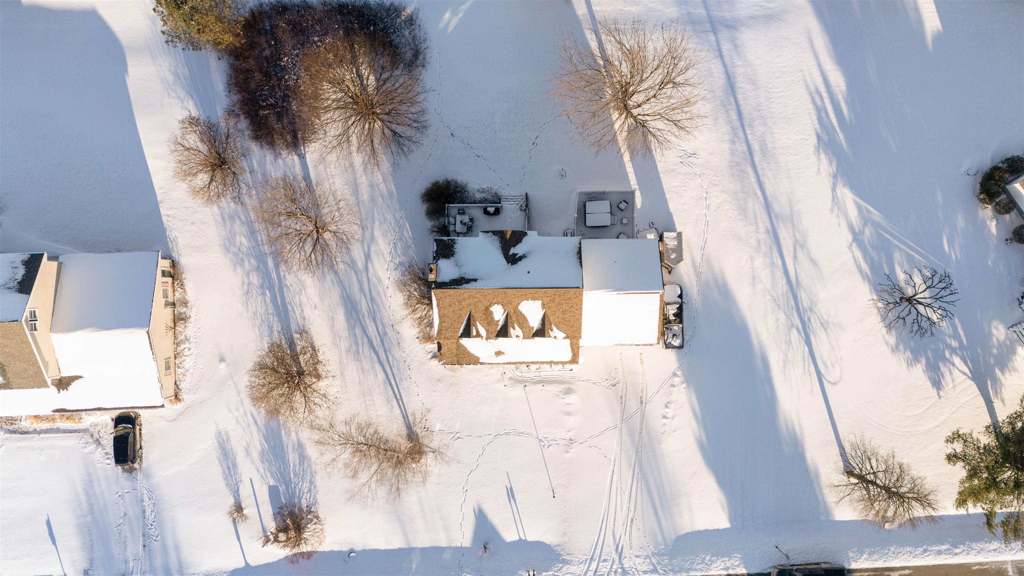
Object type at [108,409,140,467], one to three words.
car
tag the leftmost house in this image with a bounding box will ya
[0,250,178,411]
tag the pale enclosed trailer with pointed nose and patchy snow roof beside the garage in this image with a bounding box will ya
[659,232,683,276]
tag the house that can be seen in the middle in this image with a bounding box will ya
[428,230,665,366]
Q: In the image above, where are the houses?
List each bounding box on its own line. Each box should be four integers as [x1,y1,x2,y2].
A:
[999,175,1024,233]
[0,250,178,411]
[428,230,665,366]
